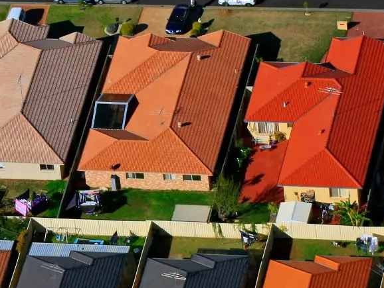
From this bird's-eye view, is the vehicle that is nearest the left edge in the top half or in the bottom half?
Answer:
top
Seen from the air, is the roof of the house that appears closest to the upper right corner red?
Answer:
Yes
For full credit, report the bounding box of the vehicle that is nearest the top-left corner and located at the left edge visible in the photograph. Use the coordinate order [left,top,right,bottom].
[2,1,27,22]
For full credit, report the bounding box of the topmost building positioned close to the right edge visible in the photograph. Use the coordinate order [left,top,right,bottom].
[243,29,384,206]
